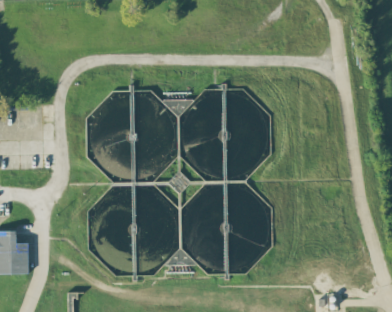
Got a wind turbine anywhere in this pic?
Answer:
No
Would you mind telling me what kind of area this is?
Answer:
industrial area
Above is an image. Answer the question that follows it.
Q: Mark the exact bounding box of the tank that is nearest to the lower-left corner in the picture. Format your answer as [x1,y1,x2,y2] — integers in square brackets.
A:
[88,183,180,280]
